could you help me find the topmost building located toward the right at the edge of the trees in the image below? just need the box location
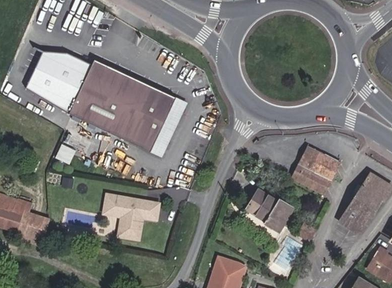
[292,144,341,194]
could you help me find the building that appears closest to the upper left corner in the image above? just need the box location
[26,52,88,112]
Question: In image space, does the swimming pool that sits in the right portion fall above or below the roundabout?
below it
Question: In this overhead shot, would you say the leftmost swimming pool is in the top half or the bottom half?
bottom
